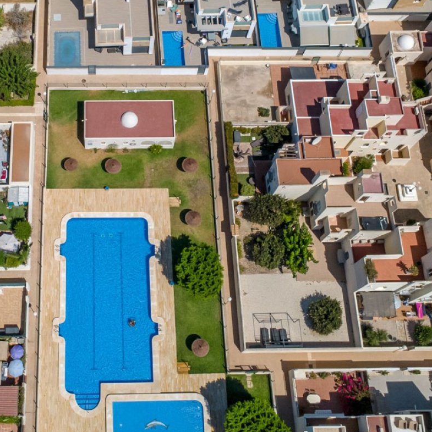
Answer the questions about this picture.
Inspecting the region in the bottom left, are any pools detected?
Yes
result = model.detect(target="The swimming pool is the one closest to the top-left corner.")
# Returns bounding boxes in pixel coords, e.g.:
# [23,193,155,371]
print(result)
[55,31,80,65]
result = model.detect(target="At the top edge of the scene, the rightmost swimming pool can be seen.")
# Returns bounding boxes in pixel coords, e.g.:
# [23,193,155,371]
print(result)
[258,13,281,46]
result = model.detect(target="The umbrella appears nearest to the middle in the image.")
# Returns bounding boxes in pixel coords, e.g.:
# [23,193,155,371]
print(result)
[182,208,202,229]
